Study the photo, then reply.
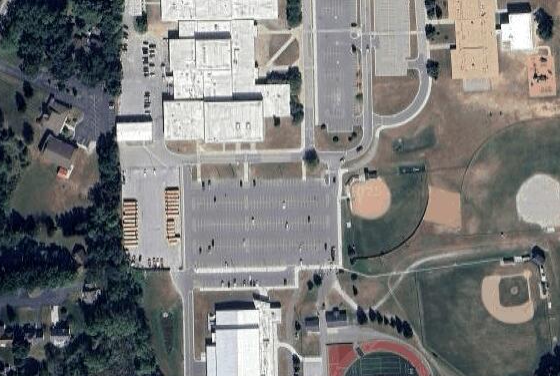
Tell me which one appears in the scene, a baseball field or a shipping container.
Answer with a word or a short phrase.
baseball field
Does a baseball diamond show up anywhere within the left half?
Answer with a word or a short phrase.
No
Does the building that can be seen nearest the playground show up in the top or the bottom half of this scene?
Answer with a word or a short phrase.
top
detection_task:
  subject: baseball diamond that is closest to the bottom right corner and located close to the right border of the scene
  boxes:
[482,269,534,324]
